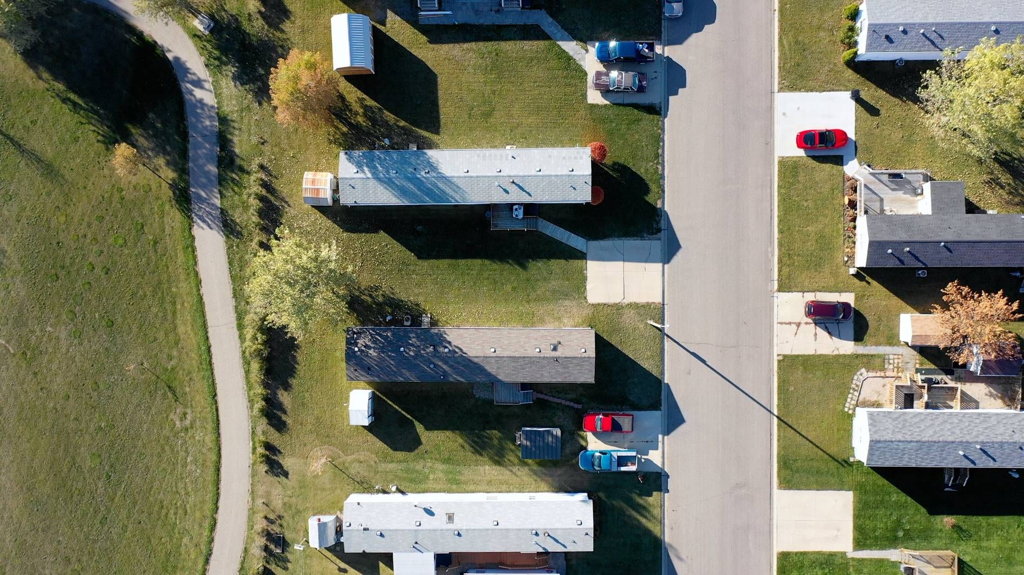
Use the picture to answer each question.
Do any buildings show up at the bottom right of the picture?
Yes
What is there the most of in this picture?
paved ground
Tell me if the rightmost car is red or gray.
red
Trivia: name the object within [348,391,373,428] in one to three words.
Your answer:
shed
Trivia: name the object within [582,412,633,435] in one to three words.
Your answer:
truck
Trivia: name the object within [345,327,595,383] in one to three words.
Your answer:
house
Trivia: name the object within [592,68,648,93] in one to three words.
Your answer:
car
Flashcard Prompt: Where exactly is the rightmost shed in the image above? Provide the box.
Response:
[981,349,1024,377]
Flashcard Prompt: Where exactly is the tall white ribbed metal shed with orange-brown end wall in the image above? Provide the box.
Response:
[332,12,373,75]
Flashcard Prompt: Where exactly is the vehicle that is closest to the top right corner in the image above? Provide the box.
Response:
[795,127,847,150]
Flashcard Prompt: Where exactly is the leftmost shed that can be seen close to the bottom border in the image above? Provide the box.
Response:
[309,518,338,553]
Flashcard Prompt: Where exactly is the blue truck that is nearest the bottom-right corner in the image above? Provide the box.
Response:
[578,449,637,475]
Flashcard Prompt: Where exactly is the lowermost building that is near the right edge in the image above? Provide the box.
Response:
[854,409,1024,467]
